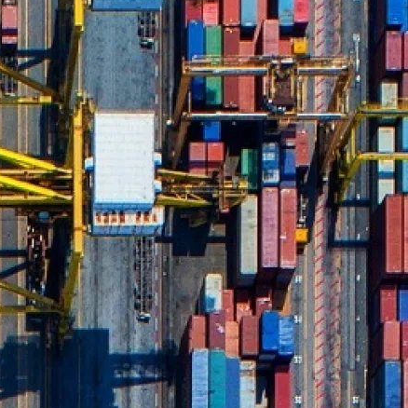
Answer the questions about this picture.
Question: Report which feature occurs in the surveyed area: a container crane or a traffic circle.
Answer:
container crane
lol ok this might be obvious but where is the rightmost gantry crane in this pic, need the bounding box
[339,100,408,211]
